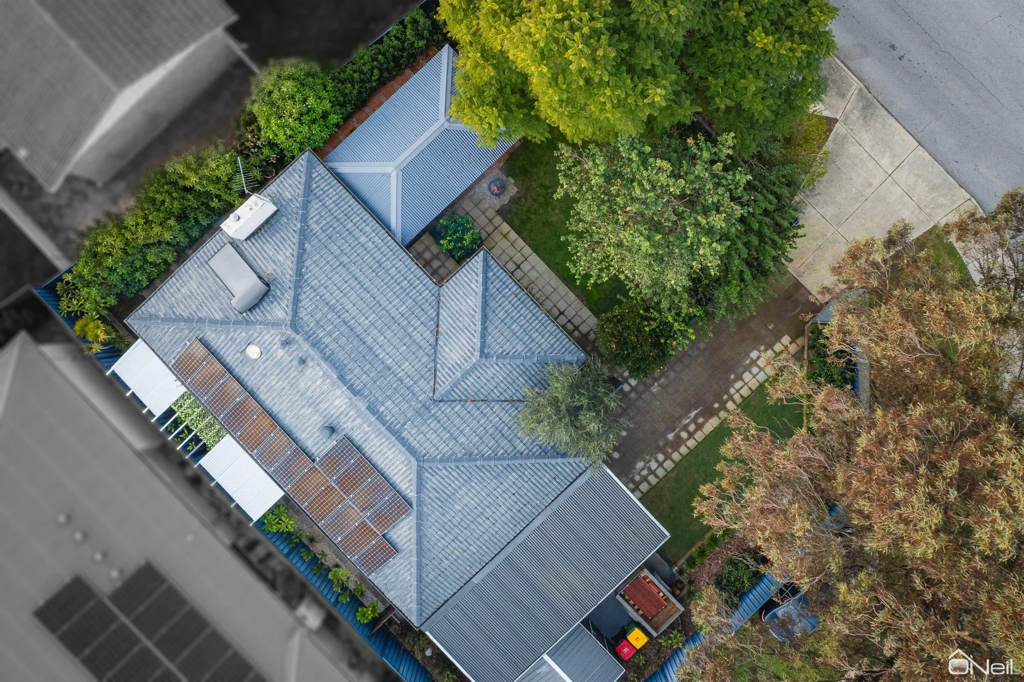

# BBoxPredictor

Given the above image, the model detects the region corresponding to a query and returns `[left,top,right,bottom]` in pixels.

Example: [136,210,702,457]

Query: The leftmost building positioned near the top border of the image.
[0,0,248,194]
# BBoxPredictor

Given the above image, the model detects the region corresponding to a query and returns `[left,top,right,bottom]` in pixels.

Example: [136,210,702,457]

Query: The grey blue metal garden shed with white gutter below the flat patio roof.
[519,618,627,682]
